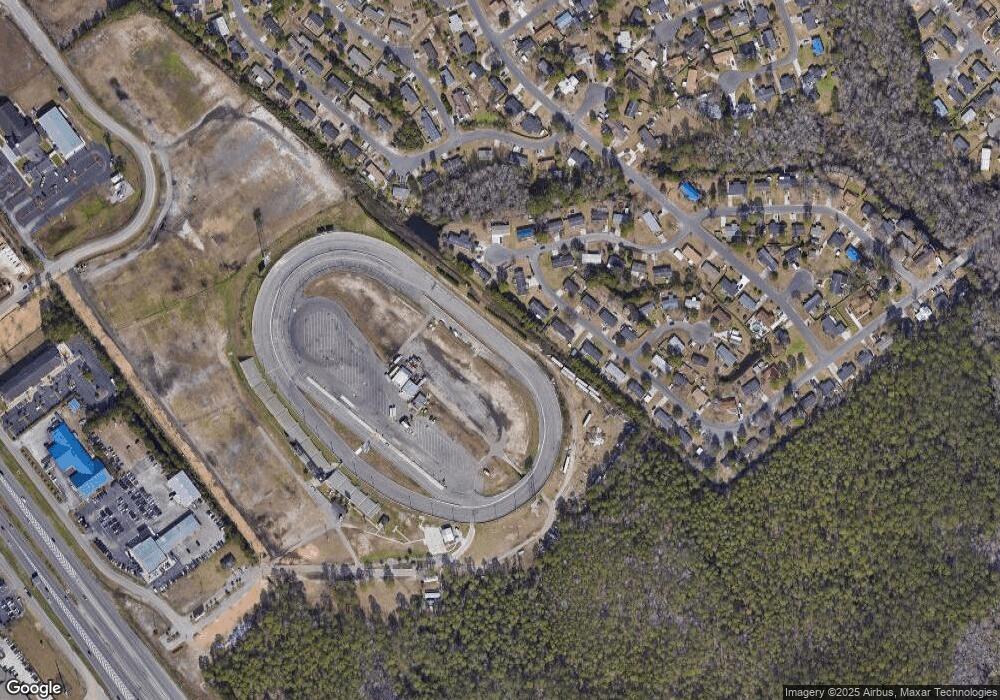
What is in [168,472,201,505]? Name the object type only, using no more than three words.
building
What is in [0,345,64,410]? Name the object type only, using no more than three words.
building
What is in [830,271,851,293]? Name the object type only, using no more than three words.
house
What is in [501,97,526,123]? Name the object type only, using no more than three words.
house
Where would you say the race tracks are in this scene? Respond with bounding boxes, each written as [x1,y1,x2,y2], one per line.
[251,231,562,522]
